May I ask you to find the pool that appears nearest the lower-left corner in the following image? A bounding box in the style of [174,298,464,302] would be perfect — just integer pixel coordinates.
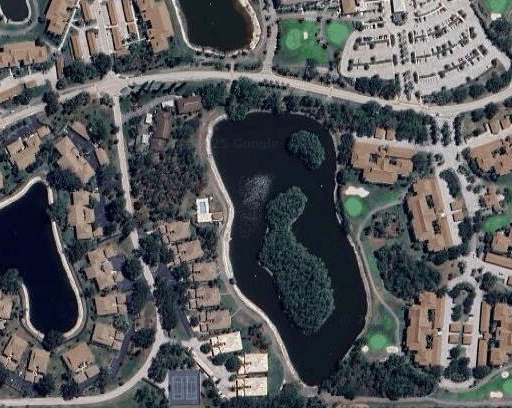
[196,200,212,223]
